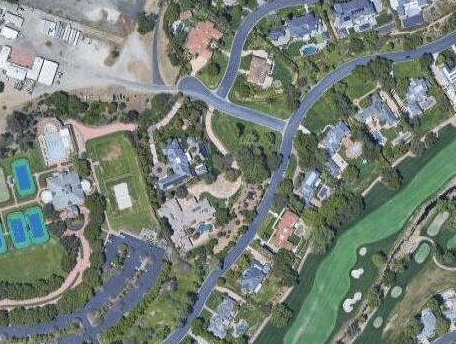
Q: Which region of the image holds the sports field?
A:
left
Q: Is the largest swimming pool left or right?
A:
left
